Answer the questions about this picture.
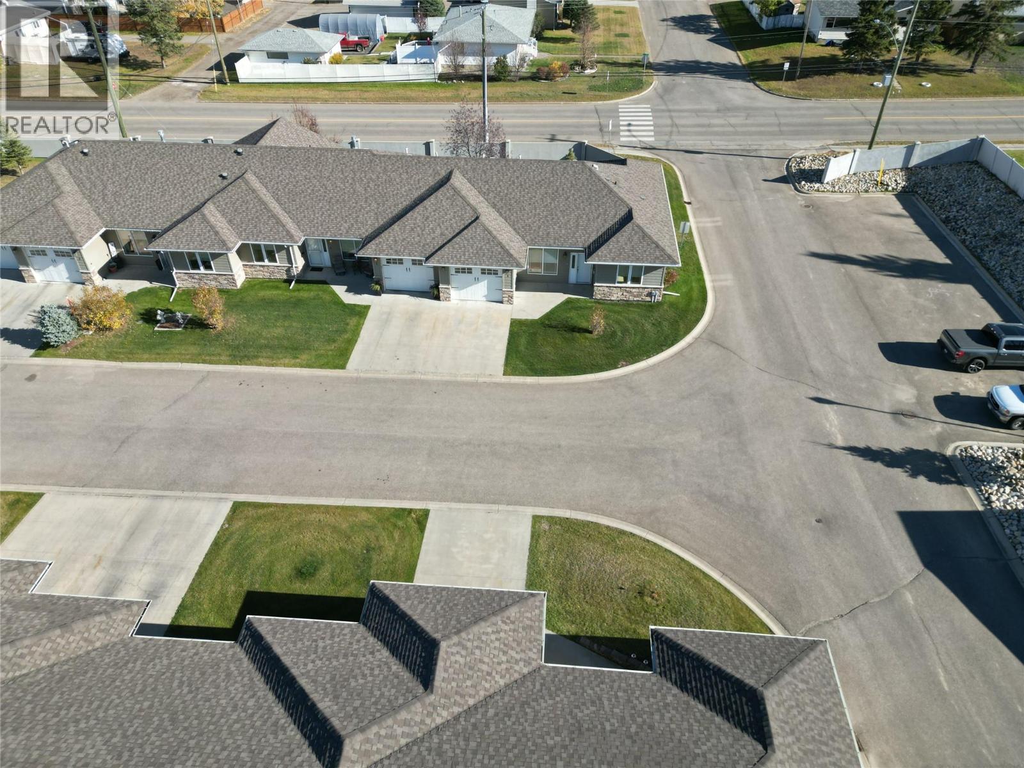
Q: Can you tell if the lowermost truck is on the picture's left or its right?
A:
right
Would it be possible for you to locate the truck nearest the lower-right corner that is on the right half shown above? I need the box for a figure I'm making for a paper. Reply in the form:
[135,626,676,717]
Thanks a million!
[983,378,1024,430]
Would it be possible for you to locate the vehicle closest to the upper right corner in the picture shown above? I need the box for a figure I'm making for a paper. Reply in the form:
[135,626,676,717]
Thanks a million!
[936,318,1024,371]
